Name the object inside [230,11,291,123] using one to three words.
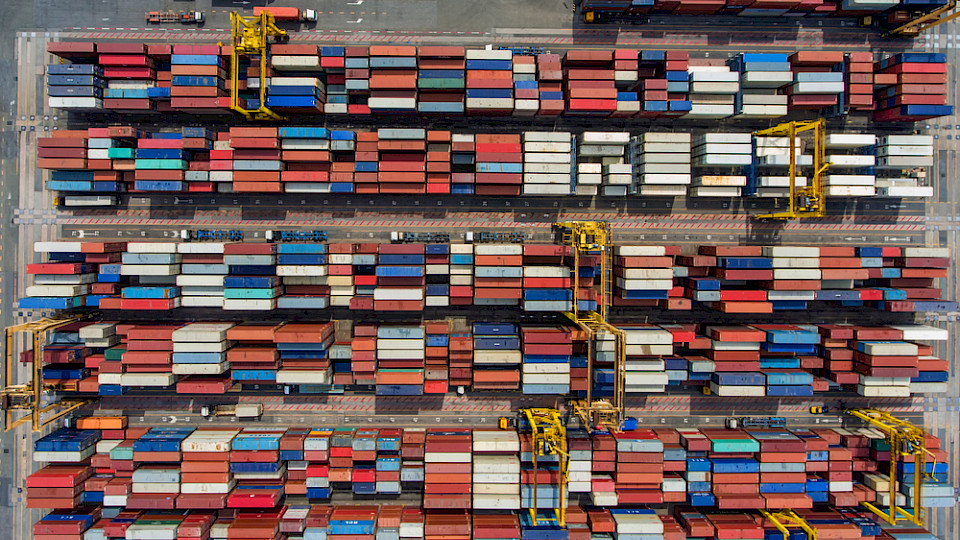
container crane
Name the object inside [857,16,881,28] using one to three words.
vehicle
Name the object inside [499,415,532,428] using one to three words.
vehicle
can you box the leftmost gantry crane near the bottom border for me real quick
[518,407,578,528]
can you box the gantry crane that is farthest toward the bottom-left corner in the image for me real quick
[0,309,98,427]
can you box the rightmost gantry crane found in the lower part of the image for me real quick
[838,410,946,531]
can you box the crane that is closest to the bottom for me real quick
[751,506,823,540]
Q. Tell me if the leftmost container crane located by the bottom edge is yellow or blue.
yellow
